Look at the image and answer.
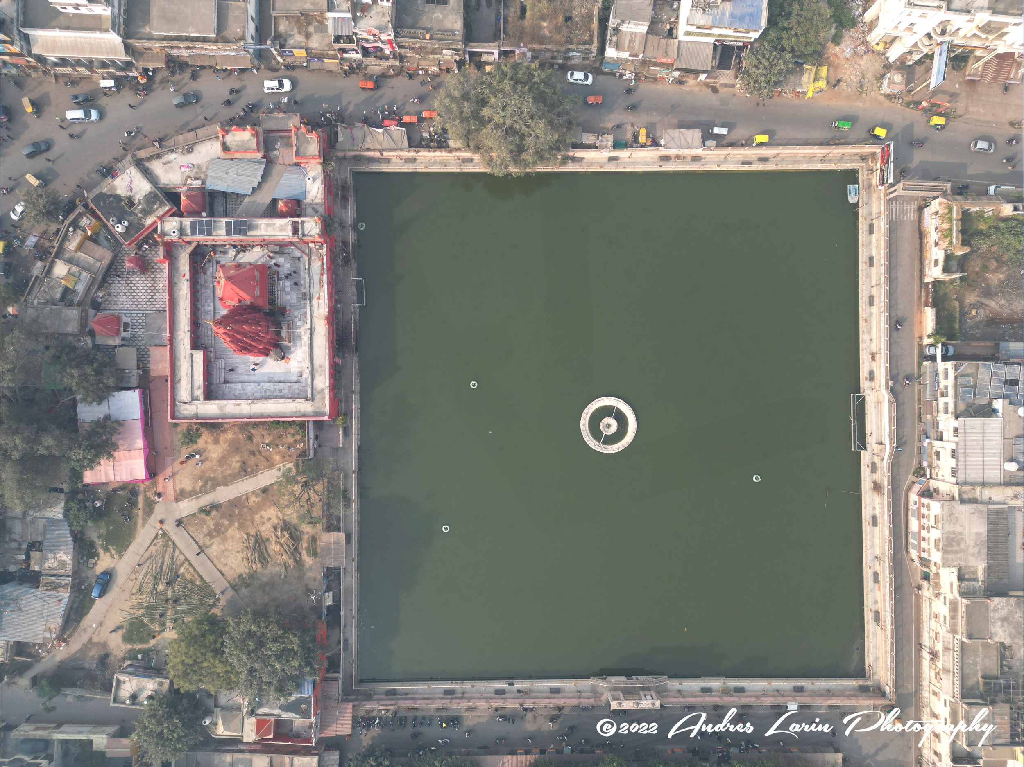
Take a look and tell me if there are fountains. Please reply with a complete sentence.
Yes, there's a fountain here.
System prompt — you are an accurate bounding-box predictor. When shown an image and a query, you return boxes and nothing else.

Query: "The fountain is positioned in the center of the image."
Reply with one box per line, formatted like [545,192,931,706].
[580,397,637,453]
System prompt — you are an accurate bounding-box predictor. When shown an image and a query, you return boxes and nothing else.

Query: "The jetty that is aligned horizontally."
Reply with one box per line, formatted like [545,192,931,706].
[590,672,669,693]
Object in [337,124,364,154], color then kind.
gray tent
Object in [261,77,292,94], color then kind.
white car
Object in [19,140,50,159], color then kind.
gray car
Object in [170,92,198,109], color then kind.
gray car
